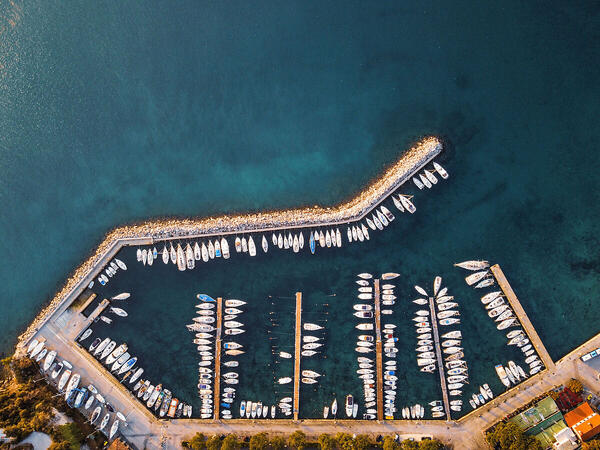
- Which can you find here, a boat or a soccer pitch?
boat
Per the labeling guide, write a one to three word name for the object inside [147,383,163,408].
boat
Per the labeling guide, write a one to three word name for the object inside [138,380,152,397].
boat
